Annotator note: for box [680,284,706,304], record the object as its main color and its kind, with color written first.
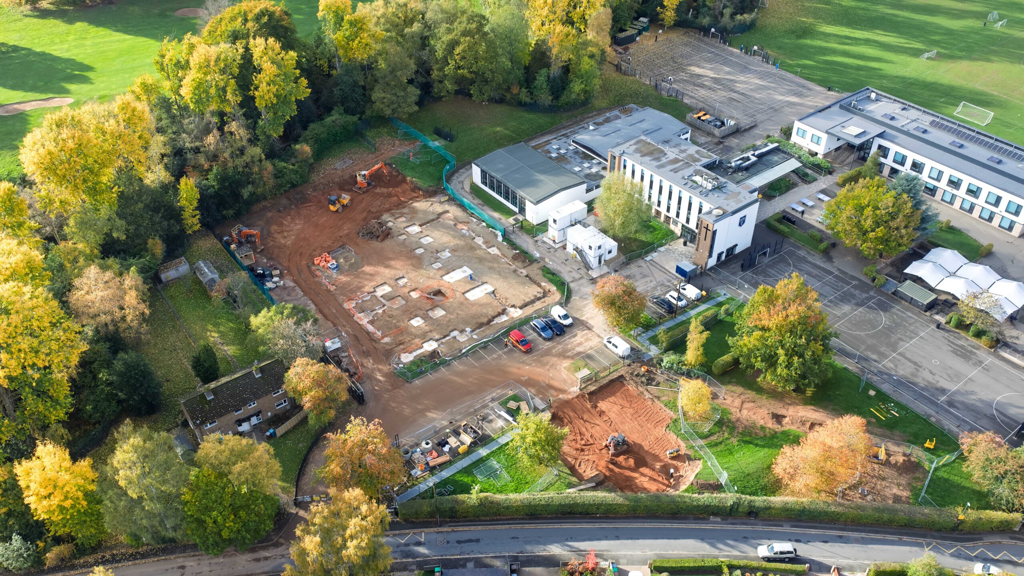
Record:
white vehicle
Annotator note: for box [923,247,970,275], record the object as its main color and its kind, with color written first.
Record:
white umbrella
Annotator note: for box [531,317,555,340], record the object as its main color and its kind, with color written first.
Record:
blue car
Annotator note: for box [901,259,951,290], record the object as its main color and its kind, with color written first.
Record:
white umbrella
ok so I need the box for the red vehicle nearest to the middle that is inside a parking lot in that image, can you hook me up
[507,327,533,353]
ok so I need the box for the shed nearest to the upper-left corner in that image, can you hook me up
[155,255,192,286]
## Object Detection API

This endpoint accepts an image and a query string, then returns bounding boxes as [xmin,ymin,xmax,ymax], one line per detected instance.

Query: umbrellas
[923,247,970,275]
[987,278,1024,321]
[933,275,983,306]
[954,262,1002,292]
[901,259,951,290]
